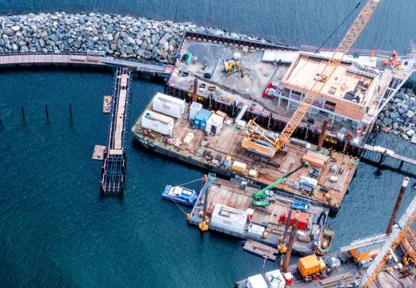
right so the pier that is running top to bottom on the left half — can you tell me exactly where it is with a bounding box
[102,64,134,201]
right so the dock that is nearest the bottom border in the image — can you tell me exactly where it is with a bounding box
[242,241,279,264]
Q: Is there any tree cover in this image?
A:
No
